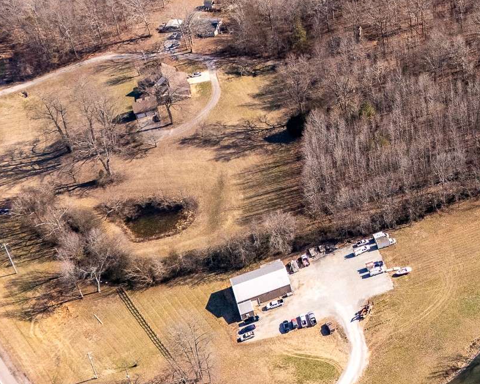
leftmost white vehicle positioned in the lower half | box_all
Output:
[236,329,257,343]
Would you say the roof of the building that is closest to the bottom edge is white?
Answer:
Yes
